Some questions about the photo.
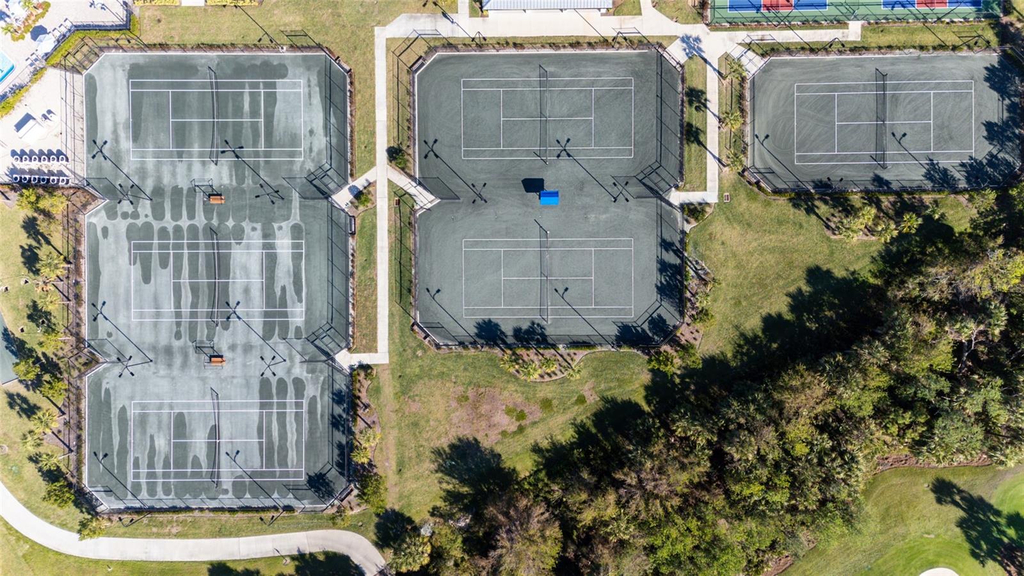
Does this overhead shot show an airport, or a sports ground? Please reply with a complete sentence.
What you see here is a sports ground.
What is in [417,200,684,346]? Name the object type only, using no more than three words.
tennis court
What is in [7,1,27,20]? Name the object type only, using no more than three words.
umbrella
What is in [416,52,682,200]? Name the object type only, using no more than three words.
tennis court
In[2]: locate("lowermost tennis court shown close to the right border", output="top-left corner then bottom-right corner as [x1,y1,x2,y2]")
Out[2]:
[749,58,1022,191]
